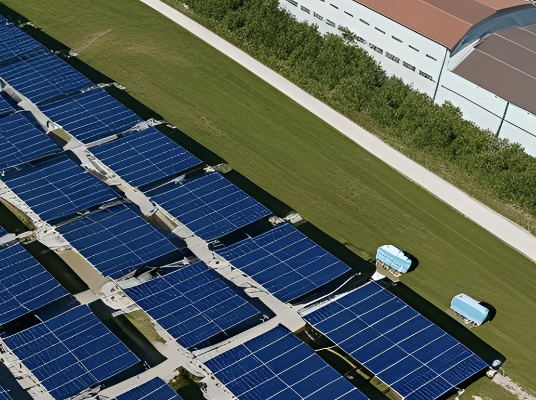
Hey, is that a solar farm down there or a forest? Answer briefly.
solar farm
